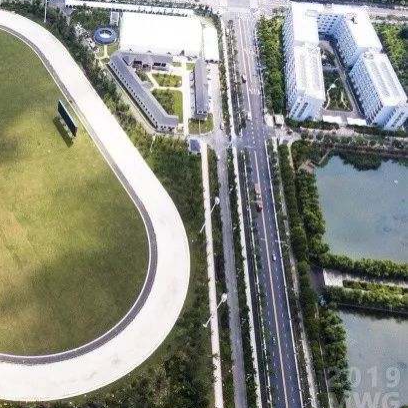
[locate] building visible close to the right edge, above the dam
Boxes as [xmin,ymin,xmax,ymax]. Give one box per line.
[281,1,408,127]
